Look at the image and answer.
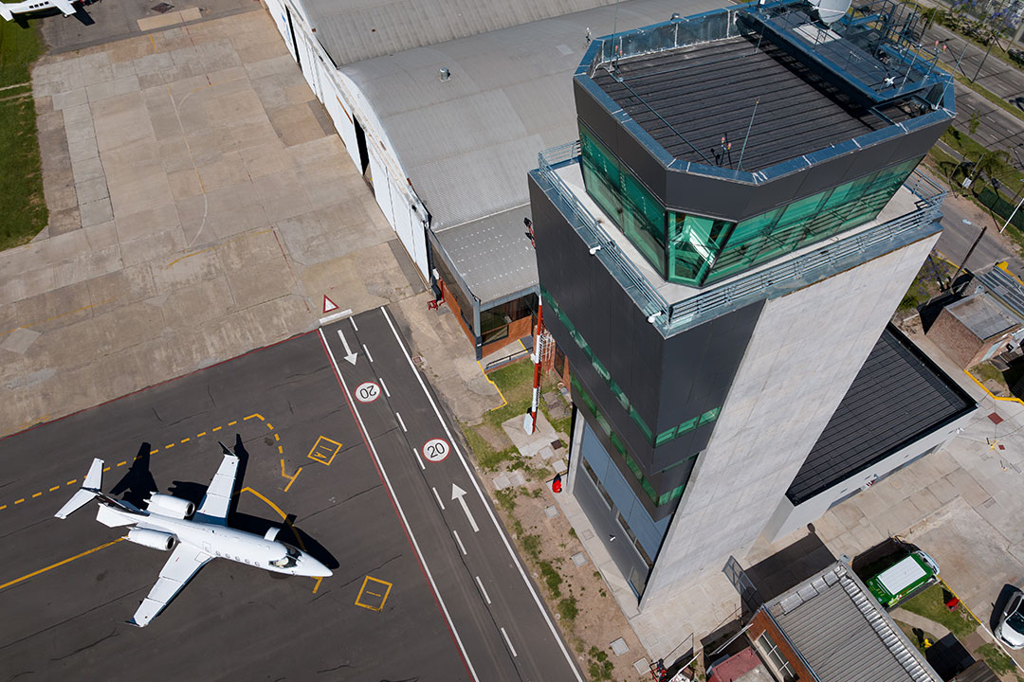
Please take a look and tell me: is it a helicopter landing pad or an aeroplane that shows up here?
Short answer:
aeroplane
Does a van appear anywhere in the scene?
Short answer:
Yes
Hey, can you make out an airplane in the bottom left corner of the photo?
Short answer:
Yes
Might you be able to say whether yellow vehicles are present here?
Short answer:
No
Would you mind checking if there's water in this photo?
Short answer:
No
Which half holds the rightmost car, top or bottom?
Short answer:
bottom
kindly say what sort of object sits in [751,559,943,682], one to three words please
building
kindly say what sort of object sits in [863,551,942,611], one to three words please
van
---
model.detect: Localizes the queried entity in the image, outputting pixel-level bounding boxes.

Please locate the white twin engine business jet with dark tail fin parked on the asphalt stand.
[57,444,333,626]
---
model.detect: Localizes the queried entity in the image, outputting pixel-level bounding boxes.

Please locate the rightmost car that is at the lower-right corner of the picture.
[996,585,1024,645]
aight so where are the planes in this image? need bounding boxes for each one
[0,0,105,22]
[57,444,333,626]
